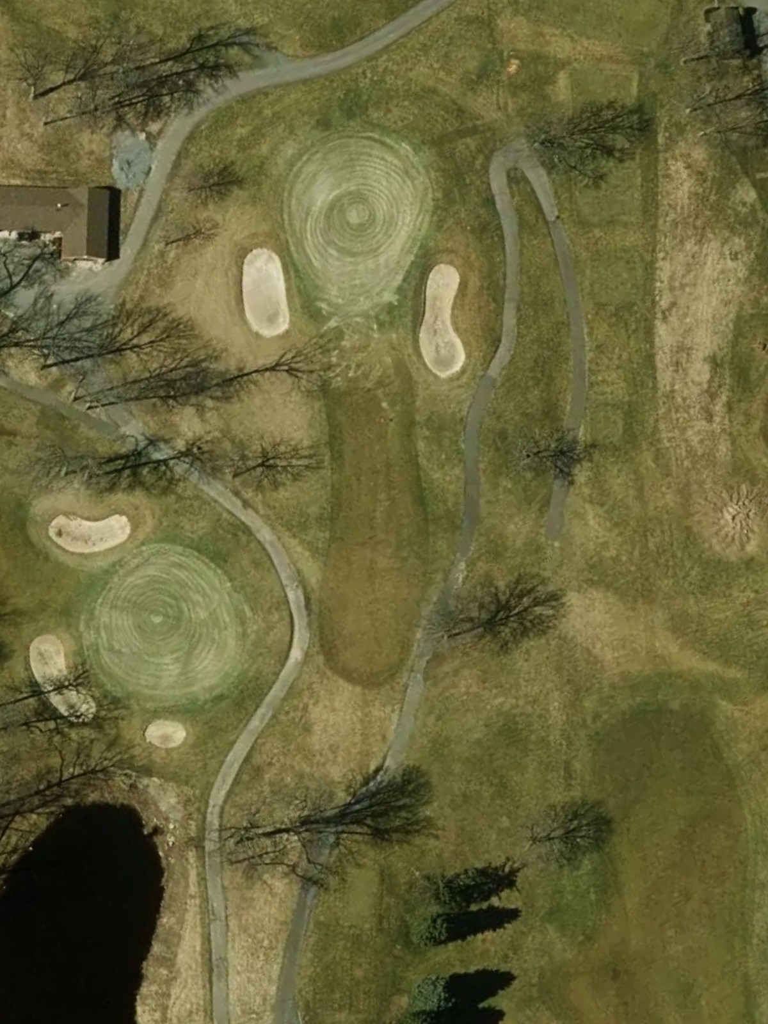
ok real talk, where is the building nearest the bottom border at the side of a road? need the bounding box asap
[0,184,109,259]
